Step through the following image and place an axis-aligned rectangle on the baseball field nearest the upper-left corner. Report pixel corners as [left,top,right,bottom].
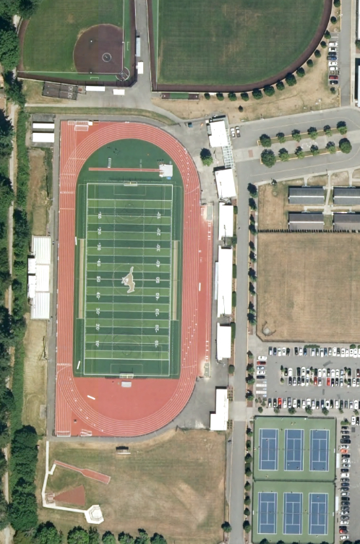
[18,0,137,85]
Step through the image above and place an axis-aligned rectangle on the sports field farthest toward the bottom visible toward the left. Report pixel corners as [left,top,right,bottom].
[73,139,184,379]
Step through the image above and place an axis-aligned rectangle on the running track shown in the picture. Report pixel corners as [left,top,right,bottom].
[55,121,213,437]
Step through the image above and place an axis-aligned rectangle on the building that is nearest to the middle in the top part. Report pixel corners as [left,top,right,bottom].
[215,168,236,199]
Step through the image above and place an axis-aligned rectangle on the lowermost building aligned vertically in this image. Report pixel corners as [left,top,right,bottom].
[211,388,228,432]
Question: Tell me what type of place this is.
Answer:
sports ground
